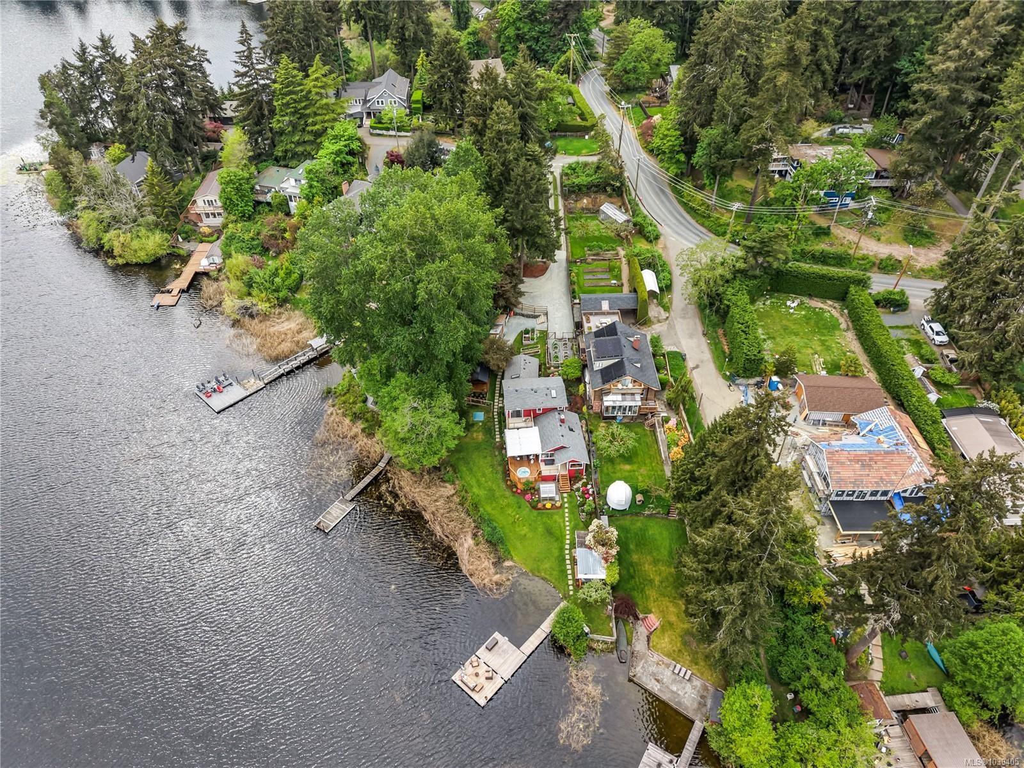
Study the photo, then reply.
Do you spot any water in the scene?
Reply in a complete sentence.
Yes, the picture does contain water.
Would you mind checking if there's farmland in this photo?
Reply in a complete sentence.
No, there's no farmland in this view.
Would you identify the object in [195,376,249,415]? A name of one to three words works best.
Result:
pier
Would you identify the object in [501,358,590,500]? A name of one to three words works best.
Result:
house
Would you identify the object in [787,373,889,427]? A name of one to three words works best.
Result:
building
